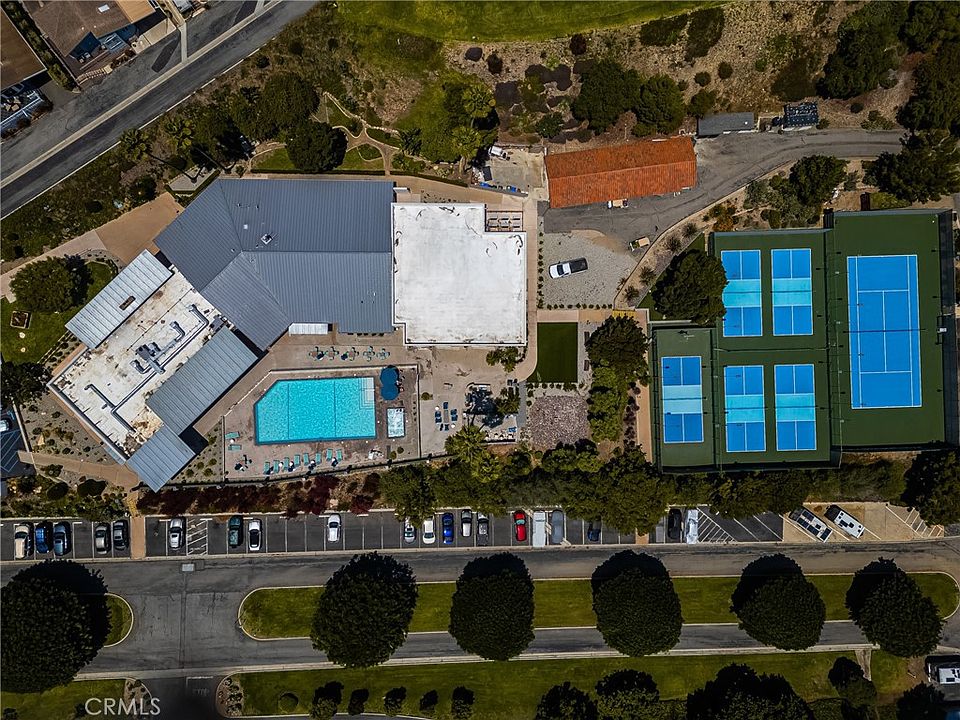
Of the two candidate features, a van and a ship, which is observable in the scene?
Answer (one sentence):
I can see a van in this picture.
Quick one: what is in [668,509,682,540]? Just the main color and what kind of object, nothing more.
black car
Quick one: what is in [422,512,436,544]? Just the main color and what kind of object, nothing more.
white car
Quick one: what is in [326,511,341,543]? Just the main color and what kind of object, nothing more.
white car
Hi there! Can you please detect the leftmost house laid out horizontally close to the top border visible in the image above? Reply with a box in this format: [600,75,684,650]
[25,0,165,64]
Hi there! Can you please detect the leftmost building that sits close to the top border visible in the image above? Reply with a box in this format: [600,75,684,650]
[0,3,56,126]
